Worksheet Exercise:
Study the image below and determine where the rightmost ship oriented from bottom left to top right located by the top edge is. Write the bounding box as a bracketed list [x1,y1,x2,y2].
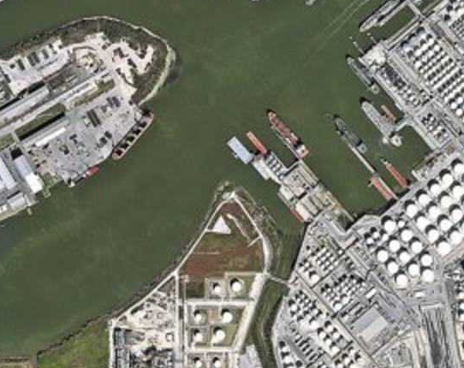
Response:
[361,0,401,30]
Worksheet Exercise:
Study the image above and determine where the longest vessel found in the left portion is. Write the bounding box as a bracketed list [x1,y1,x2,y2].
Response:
[112,112,154,158]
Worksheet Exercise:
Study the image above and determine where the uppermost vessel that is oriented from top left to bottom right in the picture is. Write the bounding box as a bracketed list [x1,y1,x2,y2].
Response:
[349,57,374,86]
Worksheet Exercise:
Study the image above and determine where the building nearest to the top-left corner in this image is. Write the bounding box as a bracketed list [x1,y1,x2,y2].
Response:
[0,82,53,120]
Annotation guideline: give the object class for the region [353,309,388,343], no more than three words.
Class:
building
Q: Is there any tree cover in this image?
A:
No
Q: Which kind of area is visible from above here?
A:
industrial area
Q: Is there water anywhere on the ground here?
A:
Yes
